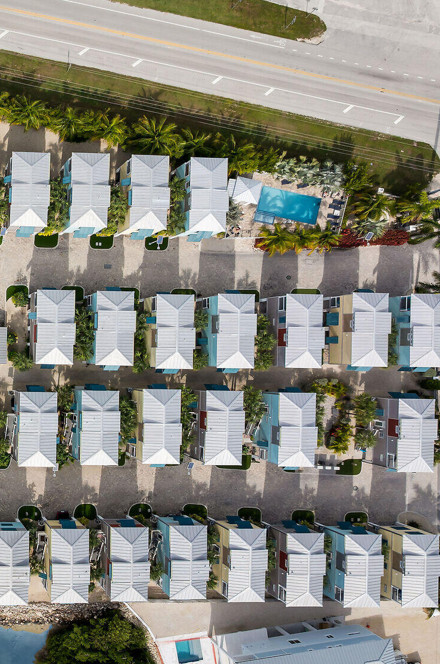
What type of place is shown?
residential area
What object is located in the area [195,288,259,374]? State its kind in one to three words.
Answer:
house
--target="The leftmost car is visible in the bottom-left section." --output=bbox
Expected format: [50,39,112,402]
[57,502,71,521]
